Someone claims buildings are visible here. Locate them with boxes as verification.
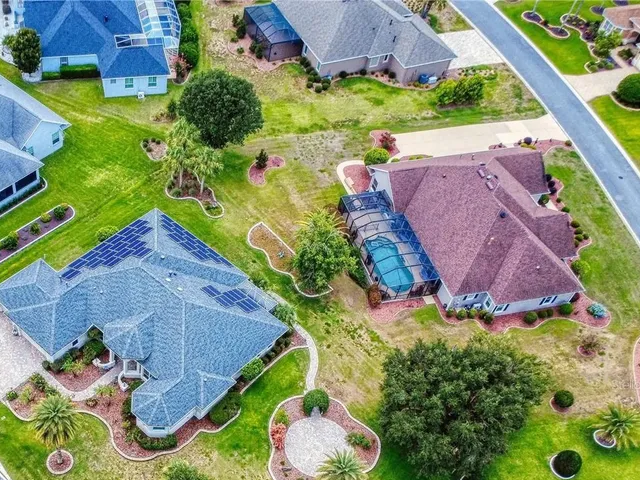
[365,150,586,316]
[23,0,172,95]
[0,208,289,436]
[0,75,72,208]
[272,0,458,84]
[597,1,640,71]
